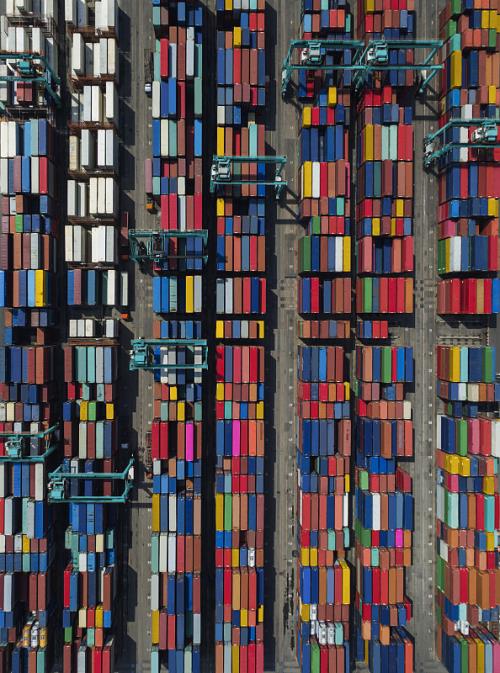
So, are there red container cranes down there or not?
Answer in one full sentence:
No, no red container crane can be seen from above.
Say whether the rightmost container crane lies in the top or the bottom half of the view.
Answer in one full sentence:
The top half of the photo is where the rightmost container crane is.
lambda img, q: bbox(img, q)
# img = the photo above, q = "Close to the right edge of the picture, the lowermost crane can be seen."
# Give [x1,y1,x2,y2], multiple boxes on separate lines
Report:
[422,120,500,170]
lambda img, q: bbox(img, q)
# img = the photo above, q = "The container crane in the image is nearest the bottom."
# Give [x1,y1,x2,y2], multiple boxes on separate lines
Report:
[43,455,139,500]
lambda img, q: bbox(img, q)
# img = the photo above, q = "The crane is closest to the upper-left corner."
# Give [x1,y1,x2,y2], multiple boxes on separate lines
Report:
[0,53,64,108]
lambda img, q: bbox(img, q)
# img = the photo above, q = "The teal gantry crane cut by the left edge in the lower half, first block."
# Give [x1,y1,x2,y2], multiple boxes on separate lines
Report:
[0,419,64,461]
